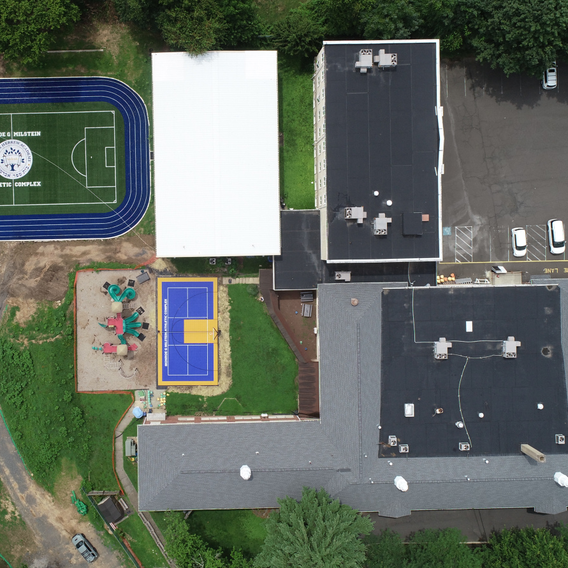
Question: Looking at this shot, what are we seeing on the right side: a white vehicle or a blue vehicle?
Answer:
white vehicle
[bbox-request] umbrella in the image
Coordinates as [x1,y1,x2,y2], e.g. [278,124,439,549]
[131,404,146,418]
